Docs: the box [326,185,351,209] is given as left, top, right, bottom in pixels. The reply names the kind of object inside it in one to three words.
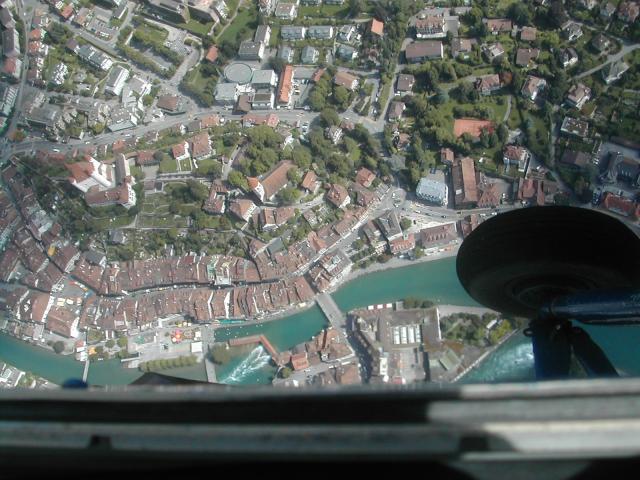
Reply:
house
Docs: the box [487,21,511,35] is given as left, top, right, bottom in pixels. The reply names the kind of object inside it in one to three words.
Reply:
house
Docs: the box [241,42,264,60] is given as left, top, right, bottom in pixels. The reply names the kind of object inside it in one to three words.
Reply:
building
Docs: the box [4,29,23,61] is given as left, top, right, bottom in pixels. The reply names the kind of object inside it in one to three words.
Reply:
building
